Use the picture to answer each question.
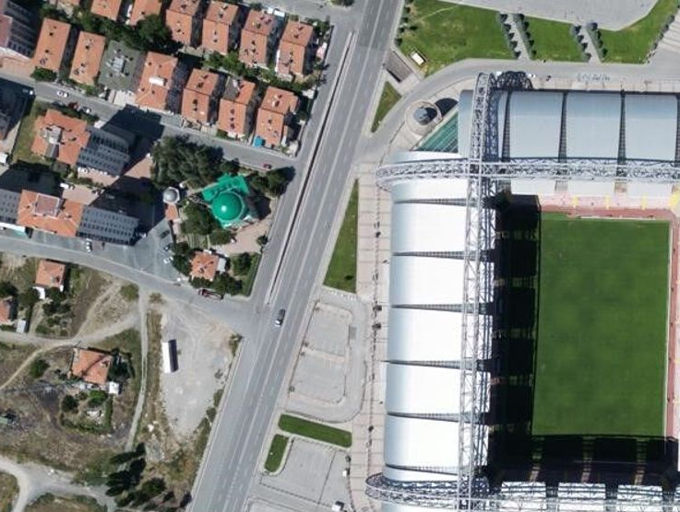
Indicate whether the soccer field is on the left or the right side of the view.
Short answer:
right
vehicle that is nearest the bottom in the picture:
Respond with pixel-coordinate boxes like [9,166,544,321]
[163,341,175,372]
